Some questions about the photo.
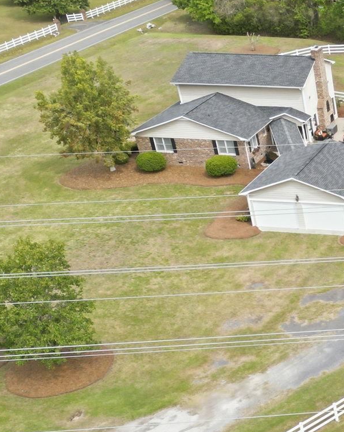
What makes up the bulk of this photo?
grass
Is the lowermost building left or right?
right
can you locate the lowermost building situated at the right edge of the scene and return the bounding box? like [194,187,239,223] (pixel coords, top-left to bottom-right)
[239,138,344,231]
